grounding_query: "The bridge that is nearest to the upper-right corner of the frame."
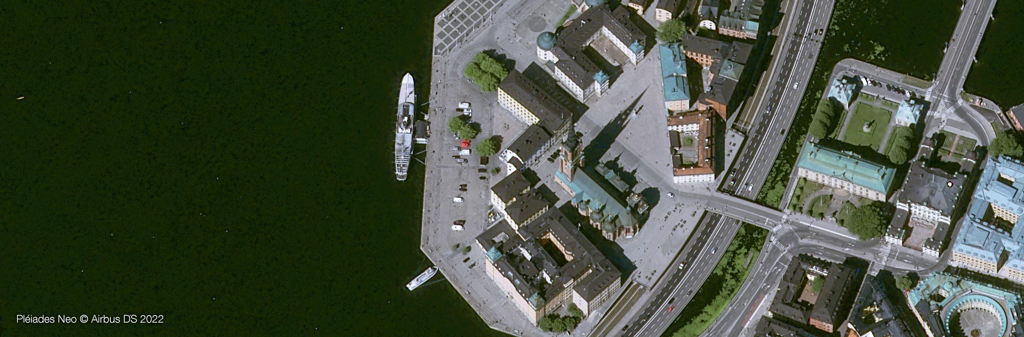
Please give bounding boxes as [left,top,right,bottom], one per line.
[931,0,998,93]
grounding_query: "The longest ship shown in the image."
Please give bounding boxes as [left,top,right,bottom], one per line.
[396,73,415,182]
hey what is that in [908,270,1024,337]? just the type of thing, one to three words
building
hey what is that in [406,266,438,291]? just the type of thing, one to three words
boat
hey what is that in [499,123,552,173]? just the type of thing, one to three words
house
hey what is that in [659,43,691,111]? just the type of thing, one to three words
house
